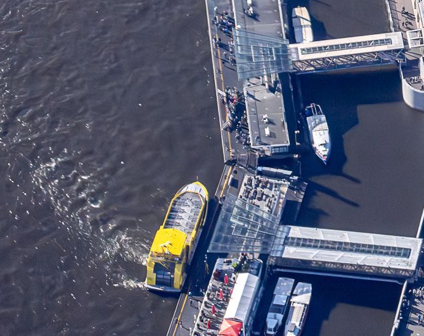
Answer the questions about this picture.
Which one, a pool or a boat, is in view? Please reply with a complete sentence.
I can see a boat in this picture.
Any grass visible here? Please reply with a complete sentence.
No, the picture contains no grass.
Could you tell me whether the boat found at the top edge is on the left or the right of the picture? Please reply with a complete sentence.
The boat found at the top edge appears in the right half of the scene.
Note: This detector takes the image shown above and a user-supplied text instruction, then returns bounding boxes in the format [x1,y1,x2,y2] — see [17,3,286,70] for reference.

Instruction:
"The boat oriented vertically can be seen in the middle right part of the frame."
[306,107,333,166]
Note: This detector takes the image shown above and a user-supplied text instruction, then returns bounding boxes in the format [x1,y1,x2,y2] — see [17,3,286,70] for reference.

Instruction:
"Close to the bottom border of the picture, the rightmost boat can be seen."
[285,280,314,336]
